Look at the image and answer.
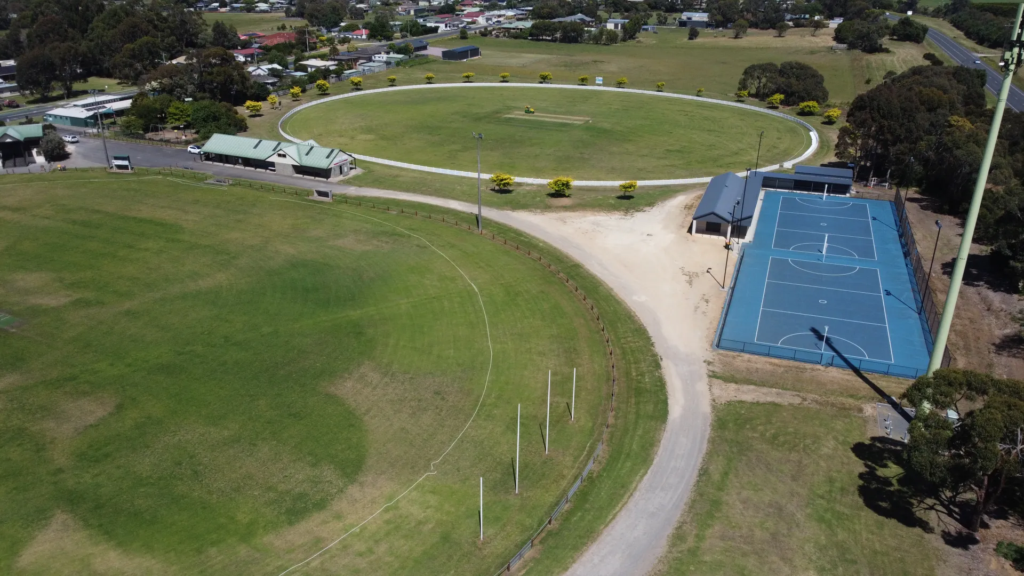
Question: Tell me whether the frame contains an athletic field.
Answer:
Yes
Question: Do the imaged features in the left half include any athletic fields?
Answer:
Yes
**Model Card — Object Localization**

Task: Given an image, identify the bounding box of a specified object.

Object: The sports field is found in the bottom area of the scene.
[0,169,613,576]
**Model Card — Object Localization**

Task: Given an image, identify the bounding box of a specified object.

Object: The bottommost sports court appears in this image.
[756,256,893,362]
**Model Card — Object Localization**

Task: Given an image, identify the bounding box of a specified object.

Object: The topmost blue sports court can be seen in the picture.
[773,196,876,259]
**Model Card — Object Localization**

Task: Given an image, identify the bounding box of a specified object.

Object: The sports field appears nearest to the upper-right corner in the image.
[277,84,820,185]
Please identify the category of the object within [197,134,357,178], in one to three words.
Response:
building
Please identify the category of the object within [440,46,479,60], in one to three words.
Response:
shed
